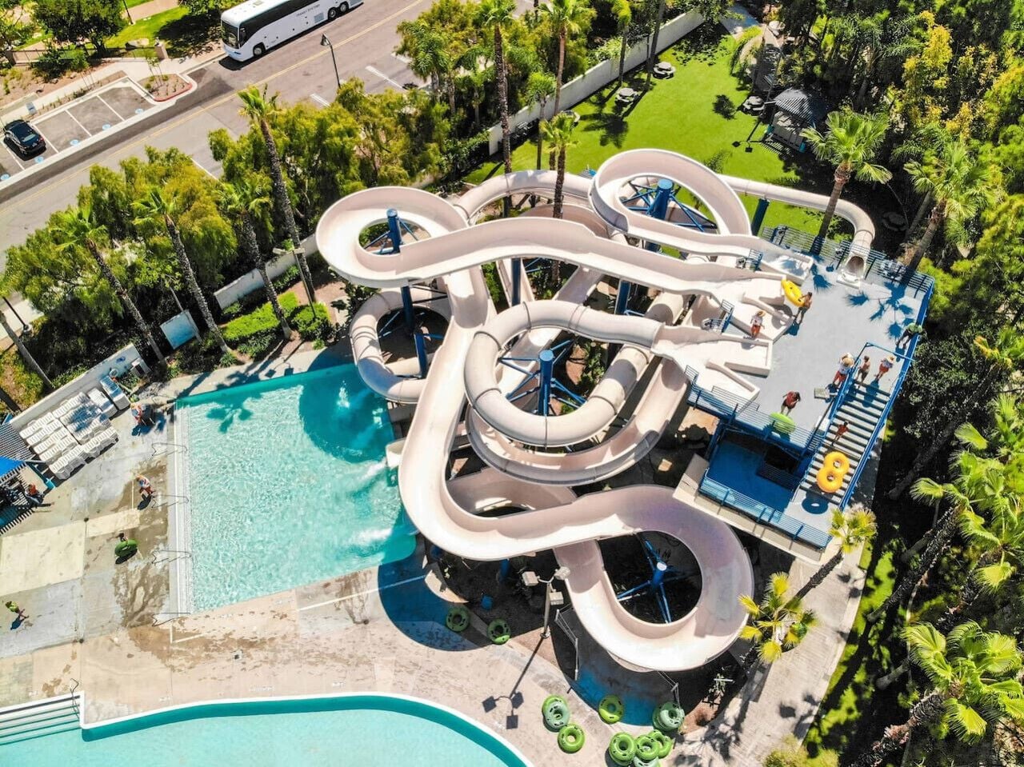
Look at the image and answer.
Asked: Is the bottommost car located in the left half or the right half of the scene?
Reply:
left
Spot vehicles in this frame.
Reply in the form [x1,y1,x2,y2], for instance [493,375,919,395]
[0,119,45,157]
[209,0,361,59]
